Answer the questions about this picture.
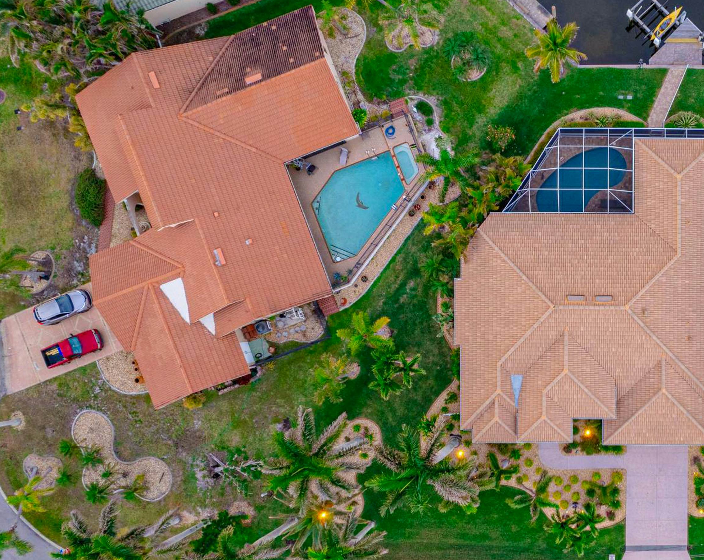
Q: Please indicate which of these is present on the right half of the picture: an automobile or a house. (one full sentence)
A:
What appears on the right half of the picture is a house.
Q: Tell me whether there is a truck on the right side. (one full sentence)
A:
No, there's no truck to be seen on the right side.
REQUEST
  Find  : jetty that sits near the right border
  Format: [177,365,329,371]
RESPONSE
[649,18,703,64]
